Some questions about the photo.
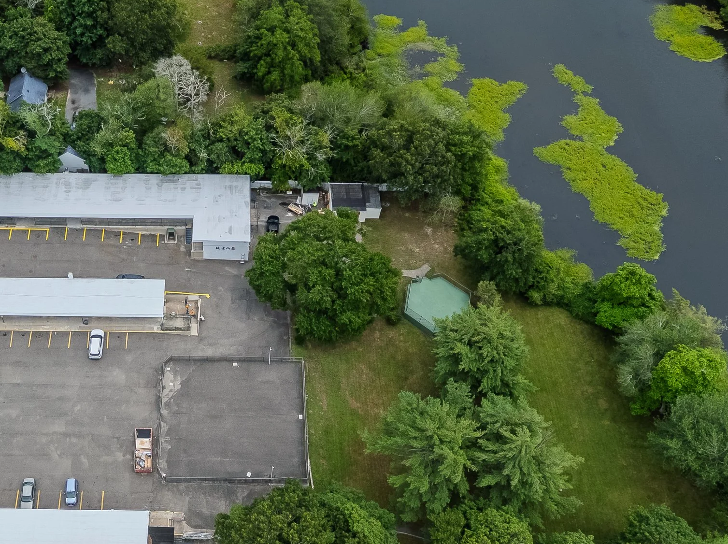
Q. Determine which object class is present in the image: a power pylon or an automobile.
automobile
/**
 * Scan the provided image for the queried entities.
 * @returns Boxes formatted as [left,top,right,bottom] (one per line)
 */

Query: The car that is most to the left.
[18,476,37,509]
